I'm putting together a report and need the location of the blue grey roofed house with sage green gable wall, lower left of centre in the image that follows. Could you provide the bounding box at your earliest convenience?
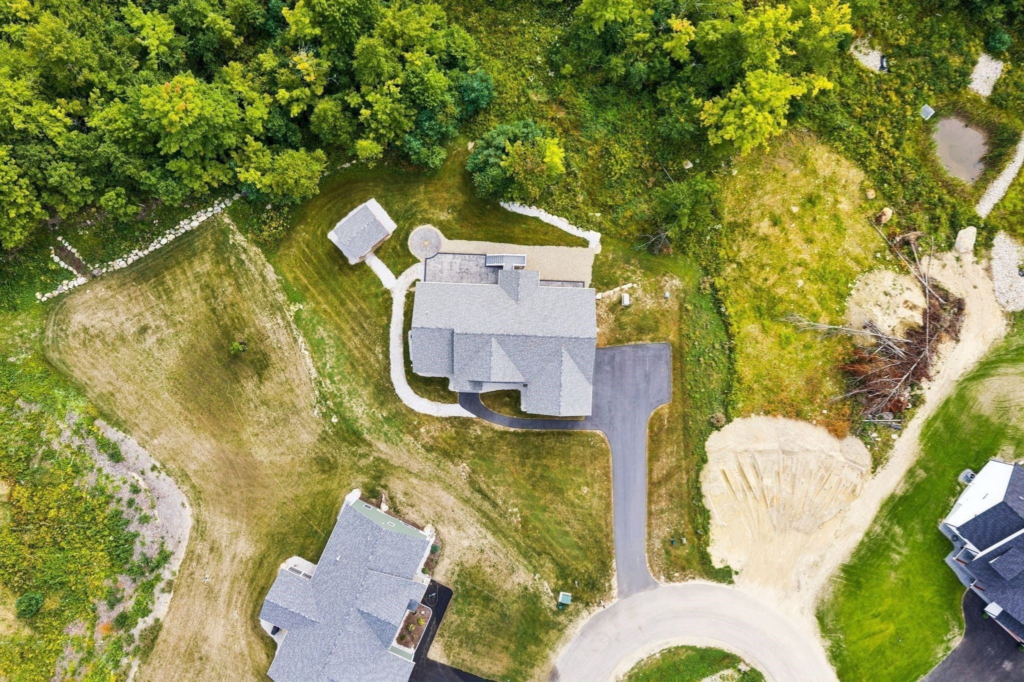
[259,498,431,682]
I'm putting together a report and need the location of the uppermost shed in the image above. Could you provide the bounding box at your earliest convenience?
[334,205,389,259]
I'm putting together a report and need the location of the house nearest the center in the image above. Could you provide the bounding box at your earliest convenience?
[411,269,597,416]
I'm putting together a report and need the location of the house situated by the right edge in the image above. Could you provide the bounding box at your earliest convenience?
[940,460,1024,642]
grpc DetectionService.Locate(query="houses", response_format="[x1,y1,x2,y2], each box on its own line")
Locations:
[940,460,1024,642]
[259,498,431,682]
[411,269,597,416]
